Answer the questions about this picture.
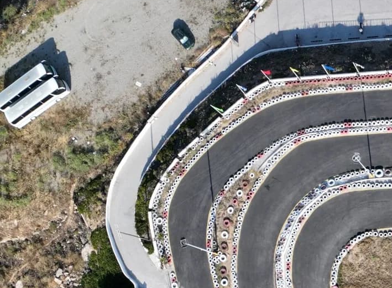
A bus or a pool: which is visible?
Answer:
bus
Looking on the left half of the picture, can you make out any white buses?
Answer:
Yes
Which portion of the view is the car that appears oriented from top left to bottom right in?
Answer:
top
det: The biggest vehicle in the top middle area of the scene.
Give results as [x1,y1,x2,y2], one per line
[170,19,196,50]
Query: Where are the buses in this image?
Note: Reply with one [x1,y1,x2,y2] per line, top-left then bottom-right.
[0,57,62,111]
[2,74,73,129]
